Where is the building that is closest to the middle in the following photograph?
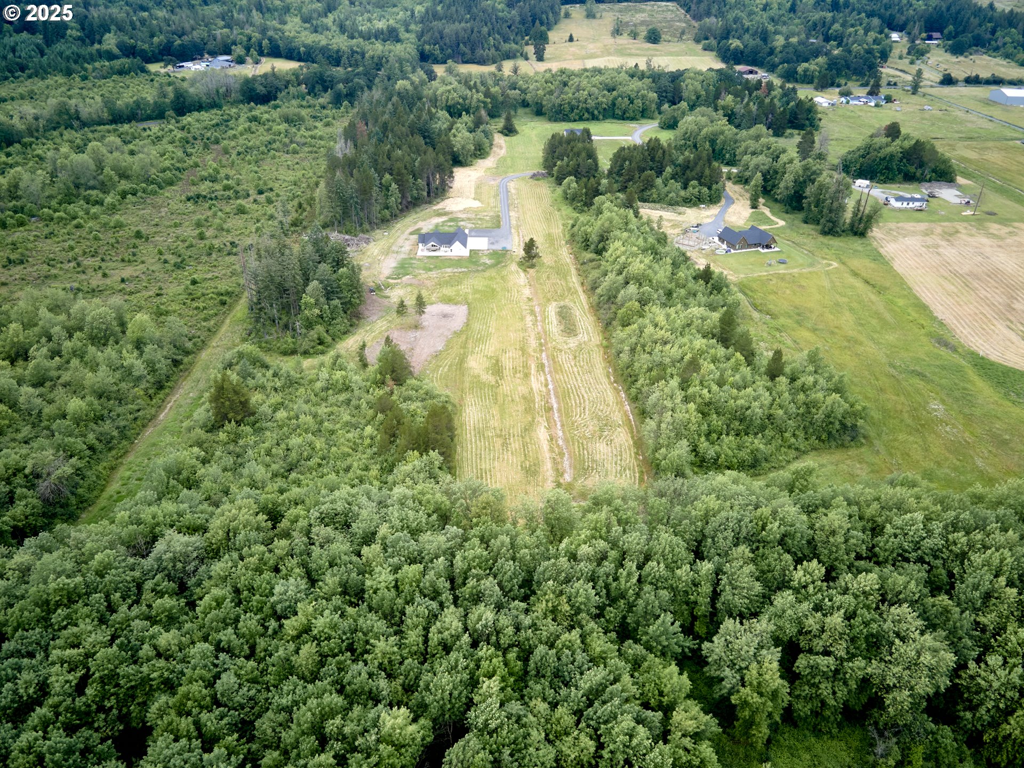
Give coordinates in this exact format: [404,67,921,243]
[416,225,474,256]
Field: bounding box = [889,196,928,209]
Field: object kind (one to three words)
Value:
house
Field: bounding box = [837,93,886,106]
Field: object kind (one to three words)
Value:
house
